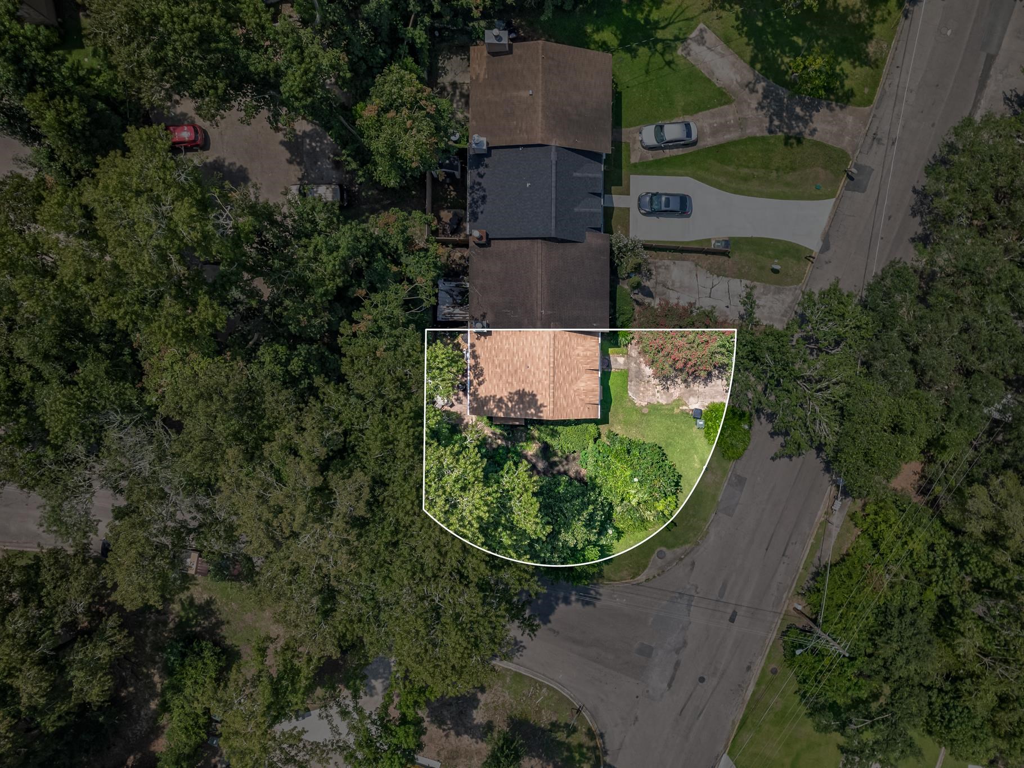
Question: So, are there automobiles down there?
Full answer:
Yes, I can see an automobile in this picture.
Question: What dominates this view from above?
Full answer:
The bulk of the photo consists of trees.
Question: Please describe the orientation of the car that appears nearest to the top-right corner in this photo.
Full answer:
The car that appears nearest to the top-right corner is laid out horizontally.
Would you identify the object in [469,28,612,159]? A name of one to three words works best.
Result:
house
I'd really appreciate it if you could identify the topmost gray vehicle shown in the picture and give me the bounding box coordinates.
[639,120,699,150]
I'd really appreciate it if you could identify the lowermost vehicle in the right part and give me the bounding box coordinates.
[638,189,694,217]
